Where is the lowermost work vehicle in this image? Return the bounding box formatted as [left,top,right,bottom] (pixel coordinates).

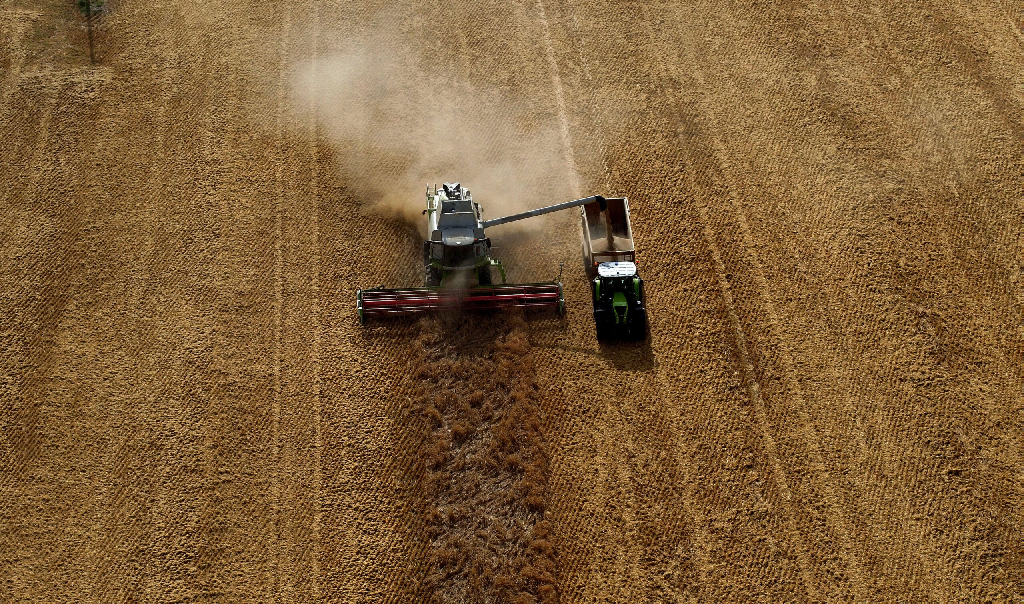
[588,258,646,340]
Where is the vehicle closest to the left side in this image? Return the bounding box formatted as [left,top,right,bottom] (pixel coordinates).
[355,181,606,327]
